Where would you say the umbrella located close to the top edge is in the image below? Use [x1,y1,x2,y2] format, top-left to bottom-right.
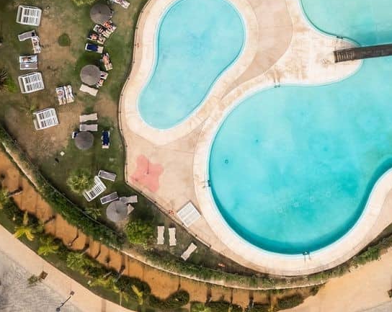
[89,1,112,25]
